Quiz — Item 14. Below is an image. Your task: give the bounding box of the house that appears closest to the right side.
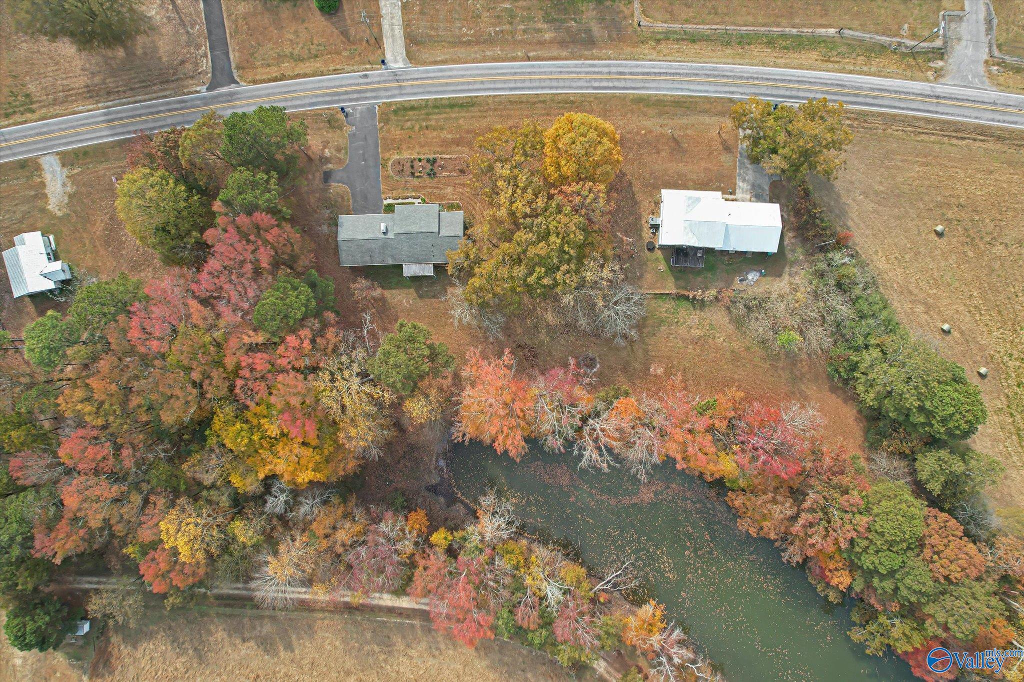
[658,189,782,252]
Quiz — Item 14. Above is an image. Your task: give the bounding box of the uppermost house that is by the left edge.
[2,231,74,299]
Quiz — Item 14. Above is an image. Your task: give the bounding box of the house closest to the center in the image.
[337,203,464,267]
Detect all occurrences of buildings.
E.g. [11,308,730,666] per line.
[337,203,464,267]
[658,189,782,252]
[68,621,86,638]
[2,231,74,299]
